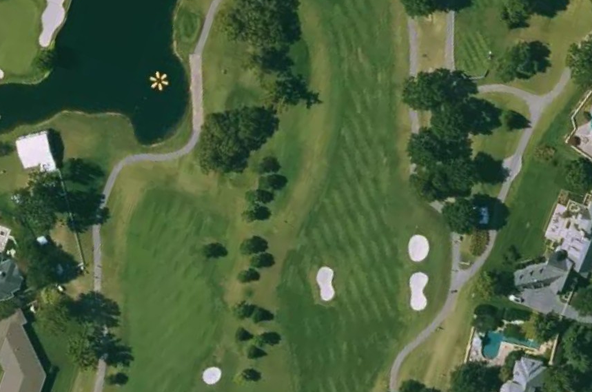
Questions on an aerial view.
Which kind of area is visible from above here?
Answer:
golf course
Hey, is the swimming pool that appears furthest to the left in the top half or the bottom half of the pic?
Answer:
bottom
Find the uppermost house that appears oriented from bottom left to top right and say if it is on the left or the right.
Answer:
right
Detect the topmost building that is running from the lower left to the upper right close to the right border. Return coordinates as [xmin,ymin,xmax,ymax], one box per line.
[512,185,592,296]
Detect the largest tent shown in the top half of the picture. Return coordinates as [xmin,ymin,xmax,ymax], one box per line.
[17,132,54,168]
